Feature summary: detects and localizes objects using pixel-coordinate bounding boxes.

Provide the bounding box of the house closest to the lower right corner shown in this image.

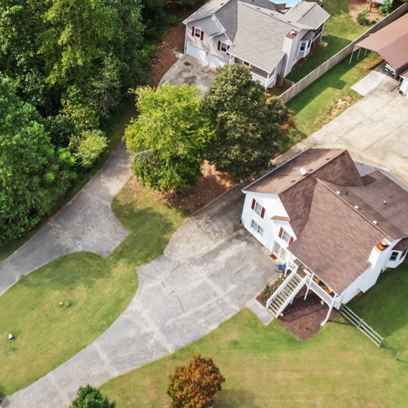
[241,147,408,325]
